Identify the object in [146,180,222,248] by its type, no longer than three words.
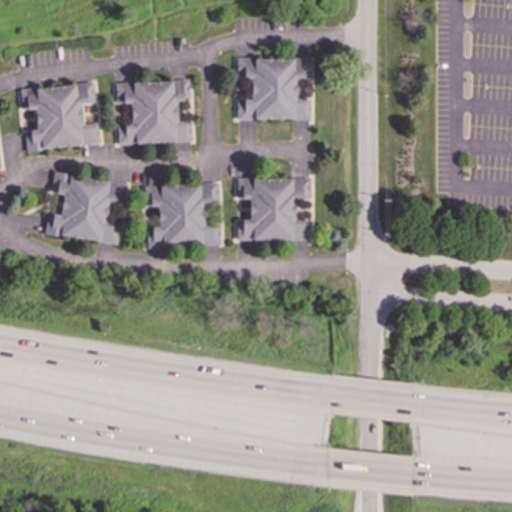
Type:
house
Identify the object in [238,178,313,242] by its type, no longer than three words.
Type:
house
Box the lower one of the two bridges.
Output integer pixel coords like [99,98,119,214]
[324,446,420,496]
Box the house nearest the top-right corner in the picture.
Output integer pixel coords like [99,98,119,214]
[238,57,313,122]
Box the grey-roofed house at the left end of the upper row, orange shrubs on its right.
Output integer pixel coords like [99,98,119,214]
[20,80,102,153]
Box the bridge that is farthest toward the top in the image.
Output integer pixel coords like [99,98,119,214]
[324,372,420,425]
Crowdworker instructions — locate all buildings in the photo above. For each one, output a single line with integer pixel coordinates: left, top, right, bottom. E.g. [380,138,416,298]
[146,180,222,248]
[238,178,313,242]
[44,172,124,247]
[20,80,102,153]
[116,80,193,146]
[238,57,313,122]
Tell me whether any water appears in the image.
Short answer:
No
